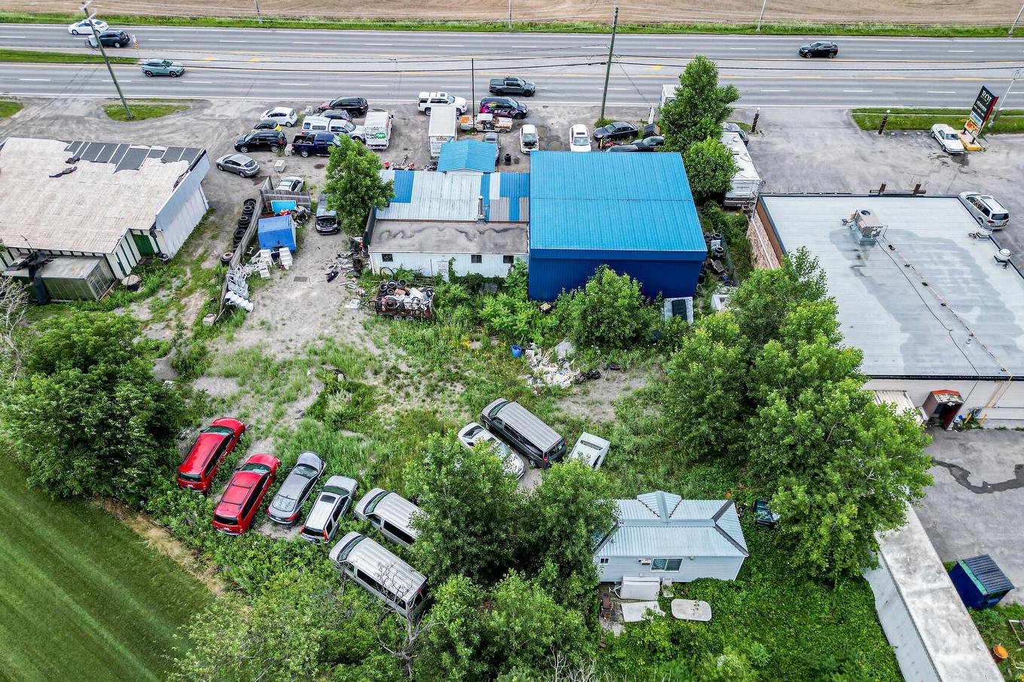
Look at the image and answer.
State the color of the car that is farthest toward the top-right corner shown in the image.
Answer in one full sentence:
The car that is farthest toward the top-right corner is white.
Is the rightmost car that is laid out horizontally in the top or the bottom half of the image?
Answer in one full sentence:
Seen from above, the rightmost car that is laid out horizontally lies in the top half of the view.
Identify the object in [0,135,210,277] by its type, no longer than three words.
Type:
building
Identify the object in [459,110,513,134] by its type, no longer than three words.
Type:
truck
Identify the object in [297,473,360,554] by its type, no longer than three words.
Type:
car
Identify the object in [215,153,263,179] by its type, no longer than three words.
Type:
car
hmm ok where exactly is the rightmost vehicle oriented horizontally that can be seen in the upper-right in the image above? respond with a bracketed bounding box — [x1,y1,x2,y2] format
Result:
[797,38,840,58]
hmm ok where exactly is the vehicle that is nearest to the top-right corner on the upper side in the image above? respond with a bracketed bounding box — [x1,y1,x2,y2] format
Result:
[931,125,965,154]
